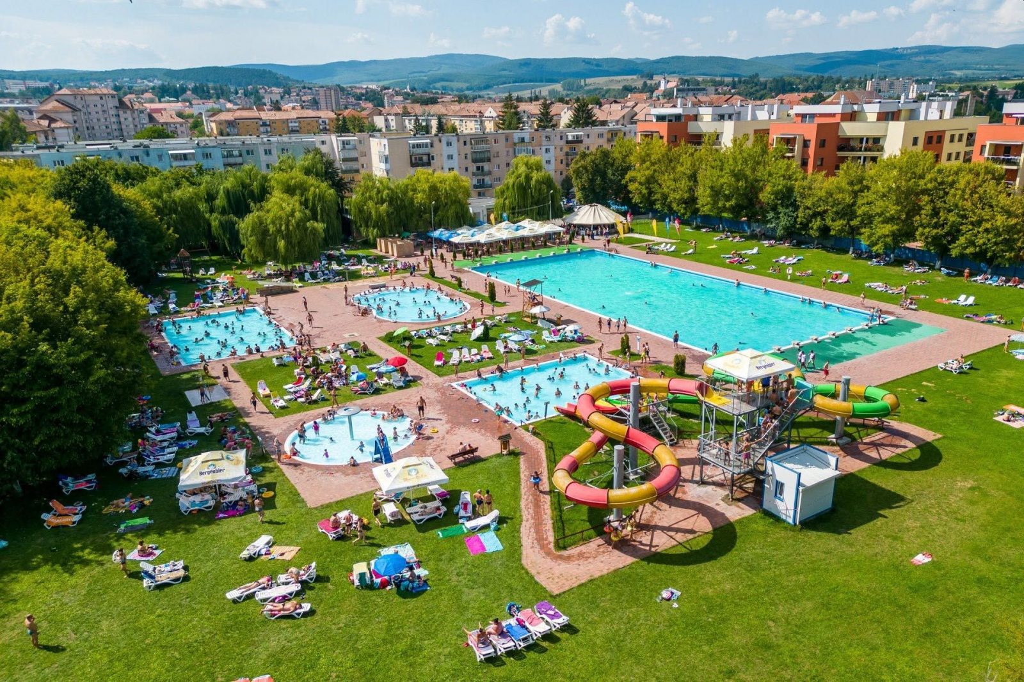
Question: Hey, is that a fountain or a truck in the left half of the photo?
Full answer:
There is a fountain in the left half of the photo.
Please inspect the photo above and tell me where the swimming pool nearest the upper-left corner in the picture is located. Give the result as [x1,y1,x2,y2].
[161,307,295,366]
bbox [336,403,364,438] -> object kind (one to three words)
fountain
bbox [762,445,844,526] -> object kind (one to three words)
shed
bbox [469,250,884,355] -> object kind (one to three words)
swimming pool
